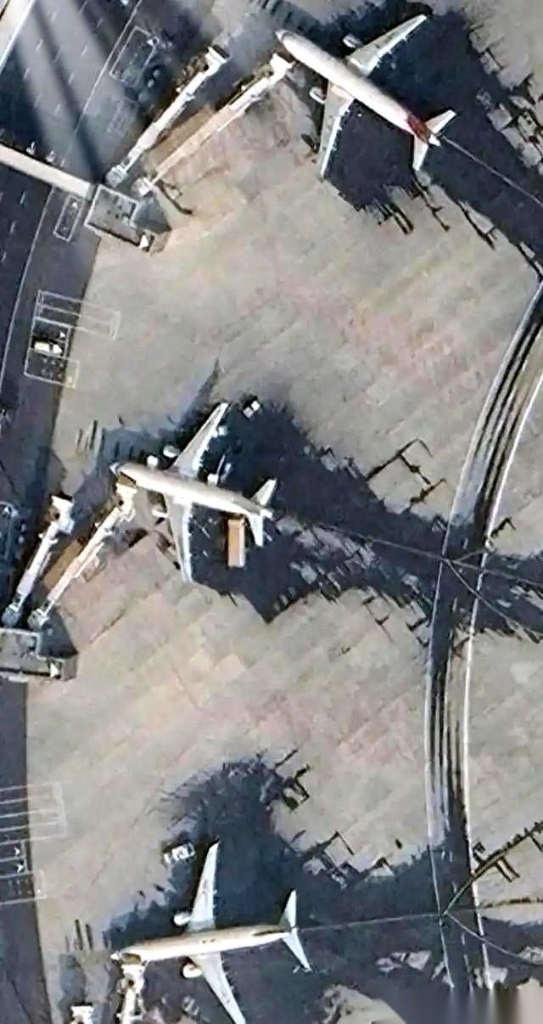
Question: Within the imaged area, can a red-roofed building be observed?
No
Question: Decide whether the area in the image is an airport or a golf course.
airport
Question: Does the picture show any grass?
No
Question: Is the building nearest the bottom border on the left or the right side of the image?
left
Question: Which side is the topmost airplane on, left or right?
right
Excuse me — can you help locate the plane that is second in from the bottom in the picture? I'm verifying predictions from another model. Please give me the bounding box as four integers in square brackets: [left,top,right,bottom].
[112,405,277,582]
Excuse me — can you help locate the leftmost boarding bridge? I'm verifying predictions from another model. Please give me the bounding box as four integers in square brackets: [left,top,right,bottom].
[3,489,75,626]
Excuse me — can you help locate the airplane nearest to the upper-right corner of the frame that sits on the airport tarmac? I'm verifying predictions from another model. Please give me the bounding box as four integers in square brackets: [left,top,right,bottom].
[277,15,458,179]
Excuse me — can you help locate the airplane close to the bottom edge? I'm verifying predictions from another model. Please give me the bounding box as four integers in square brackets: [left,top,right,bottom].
[112,842,309,1024]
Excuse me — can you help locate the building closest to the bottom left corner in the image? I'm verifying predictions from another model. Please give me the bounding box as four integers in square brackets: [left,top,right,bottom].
[0,629,78,681]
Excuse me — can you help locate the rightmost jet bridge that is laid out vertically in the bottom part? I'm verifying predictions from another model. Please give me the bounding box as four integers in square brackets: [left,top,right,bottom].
[113,955,143,1024]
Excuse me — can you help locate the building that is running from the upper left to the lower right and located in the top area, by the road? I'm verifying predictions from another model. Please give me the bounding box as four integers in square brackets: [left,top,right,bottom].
[84,184,170,253]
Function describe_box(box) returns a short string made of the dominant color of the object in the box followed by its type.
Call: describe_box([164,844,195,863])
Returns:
white work vehicle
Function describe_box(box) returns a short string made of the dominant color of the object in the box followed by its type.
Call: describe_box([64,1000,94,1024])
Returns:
white jet bridge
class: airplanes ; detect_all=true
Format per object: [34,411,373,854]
[112,842,309,1024]
[112,405,277,582]
[277,15,458,179]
